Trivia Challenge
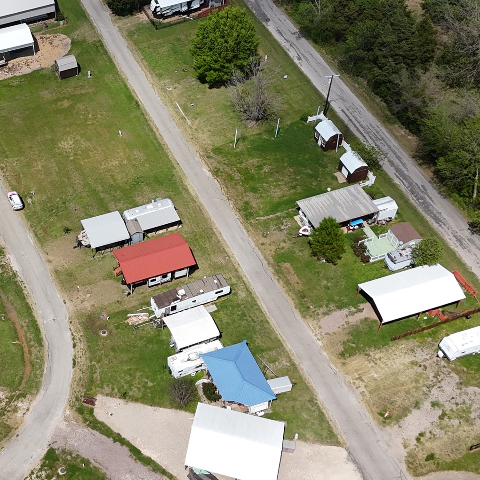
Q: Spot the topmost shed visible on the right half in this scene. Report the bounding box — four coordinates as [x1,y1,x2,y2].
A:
[313,119,344,150]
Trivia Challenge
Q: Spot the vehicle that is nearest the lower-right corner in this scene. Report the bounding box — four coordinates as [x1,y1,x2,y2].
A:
[431,326,480,363]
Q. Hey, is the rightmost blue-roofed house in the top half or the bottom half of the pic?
bottom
